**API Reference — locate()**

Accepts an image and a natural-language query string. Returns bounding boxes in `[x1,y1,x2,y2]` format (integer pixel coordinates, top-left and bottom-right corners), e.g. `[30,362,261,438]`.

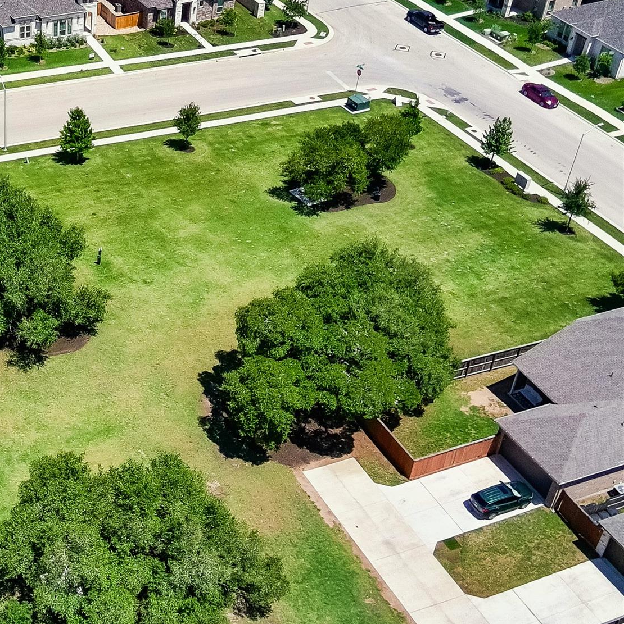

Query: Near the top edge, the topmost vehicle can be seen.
[403,6,446,33]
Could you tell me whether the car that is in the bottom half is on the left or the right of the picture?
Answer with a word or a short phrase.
right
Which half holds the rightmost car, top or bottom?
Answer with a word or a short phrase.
top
